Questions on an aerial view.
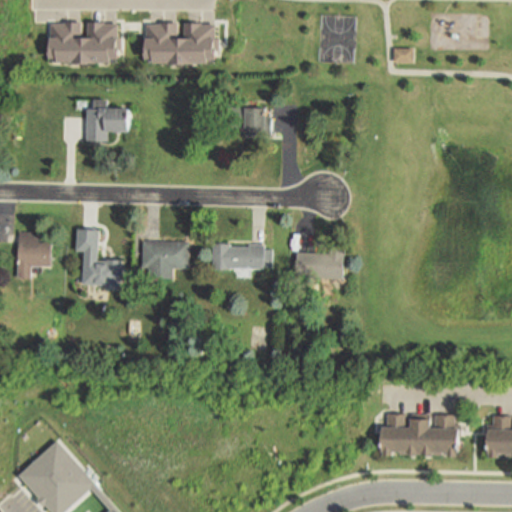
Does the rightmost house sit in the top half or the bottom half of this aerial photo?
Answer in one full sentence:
The bottom half of the photo is where the rightmost house is.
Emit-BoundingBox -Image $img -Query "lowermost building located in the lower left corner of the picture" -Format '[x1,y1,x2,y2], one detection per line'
[16,440,96,512]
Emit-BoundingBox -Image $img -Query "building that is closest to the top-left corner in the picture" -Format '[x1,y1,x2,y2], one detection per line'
[48,22,120,66]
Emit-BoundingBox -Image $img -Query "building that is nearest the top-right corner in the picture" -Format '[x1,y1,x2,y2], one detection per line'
[394,48,416,64]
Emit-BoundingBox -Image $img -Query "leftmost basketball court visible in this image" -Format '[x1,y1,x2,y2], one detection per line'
[320,16,358,62]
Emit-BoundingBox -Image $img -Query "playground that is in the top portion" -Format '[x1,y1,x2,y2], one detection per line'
[430,12,490,50]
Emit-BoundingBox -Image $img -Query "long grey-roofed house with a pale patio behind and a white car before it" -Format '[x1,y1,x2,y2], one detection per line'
[213,243,272,270]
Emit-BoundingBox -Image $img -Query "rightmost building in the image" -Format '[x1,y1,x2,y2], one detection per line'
[484,414,512,458]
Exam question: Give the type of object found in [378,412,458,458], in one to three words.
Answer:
house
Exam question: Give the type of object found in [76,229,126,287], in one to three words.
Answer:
house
